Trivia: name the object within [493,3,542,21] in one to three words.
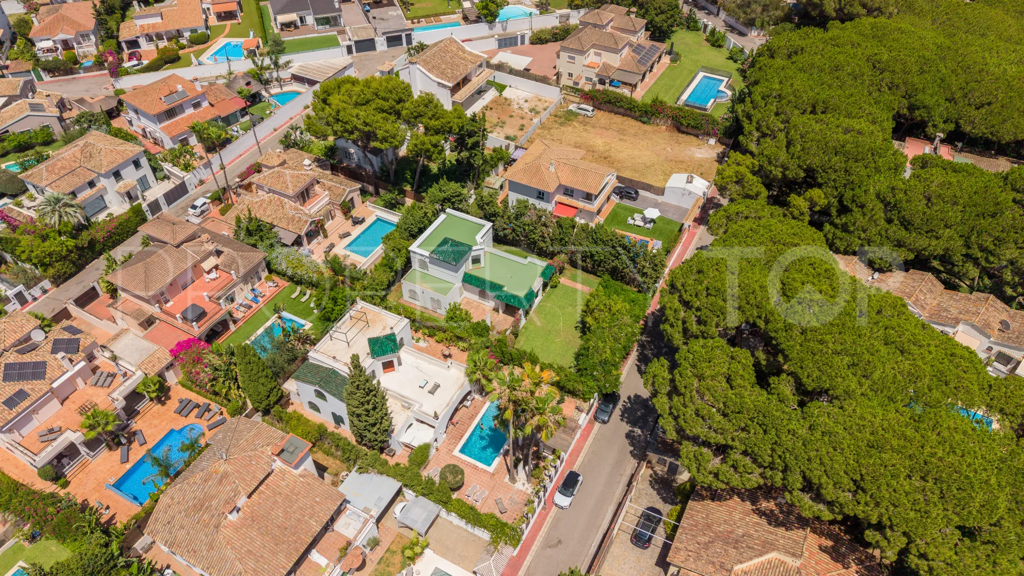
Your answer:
swimming pool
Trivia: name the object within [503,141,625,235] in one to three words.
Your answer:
house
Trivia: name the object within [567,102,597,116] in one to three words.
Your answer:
car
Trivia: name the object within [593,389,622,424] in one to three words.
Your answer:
car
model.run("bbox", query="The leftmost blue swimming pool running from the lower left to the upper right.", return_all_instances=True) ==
[112,421,207,499]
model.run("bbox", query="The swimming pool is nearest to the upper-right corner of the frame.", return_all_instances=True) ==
[681,72,733,111]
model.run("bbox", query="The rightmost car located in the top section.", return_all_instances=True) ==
[611,182,644,200]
